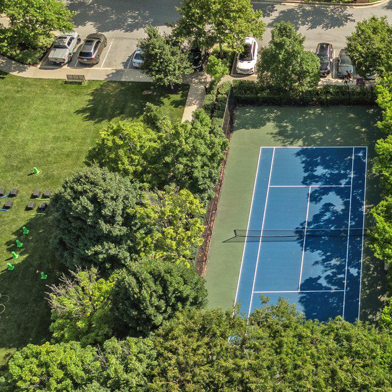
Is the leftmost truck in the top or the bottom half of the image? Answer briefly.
top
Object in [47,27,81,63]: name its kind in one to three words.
truck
